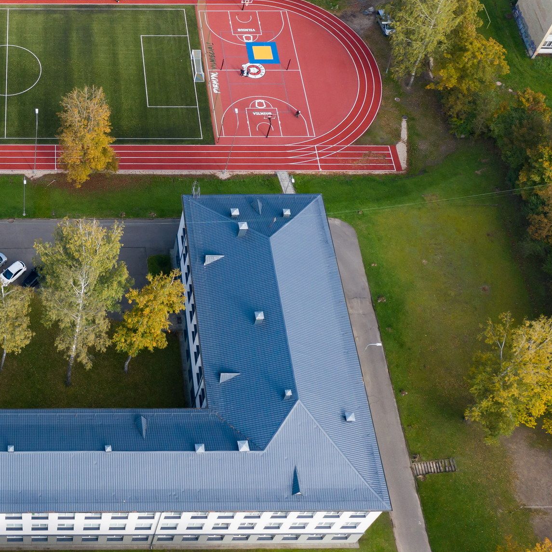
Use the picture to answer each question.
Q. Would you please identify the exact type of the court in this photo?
basketball court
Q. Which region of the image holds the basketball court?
top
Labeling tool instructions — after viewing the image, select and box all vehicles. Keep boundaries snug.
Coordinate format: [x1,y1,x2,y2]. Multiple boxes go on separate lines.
[374,12,392,34]
[19,265,47,293]
[0,259,27,287]
[0,250,8,265]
